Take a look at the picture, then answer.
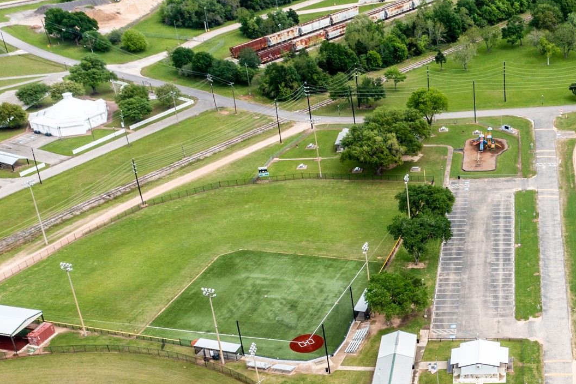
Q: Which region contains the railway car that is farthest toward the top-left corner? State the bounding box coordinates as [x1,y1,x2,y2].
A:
[228,32,267,57]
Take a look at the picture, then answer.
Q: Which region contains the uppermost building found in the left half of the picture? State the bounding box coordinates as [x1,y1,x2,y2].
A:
[24,91,113,141]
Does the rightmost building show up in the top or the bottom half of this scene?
bottom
